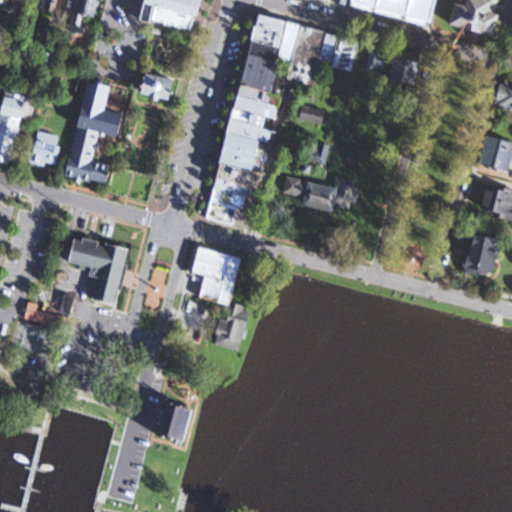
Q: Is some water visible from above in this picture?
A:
Yes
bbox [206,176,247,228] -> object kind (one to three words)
building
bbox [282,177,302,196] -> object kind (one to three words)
house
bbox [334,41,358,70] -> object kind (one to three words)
shed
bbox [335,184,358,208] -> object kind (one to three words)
house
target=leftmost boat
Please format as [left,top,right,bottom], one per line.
[12,450,30,464]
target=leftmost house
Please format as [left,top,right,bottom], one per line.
[0,93,36,167]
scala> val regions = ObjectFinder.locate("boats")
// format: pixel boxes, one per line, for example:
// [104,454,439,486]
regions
[36,464,54,473]
[12,450,30,464]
